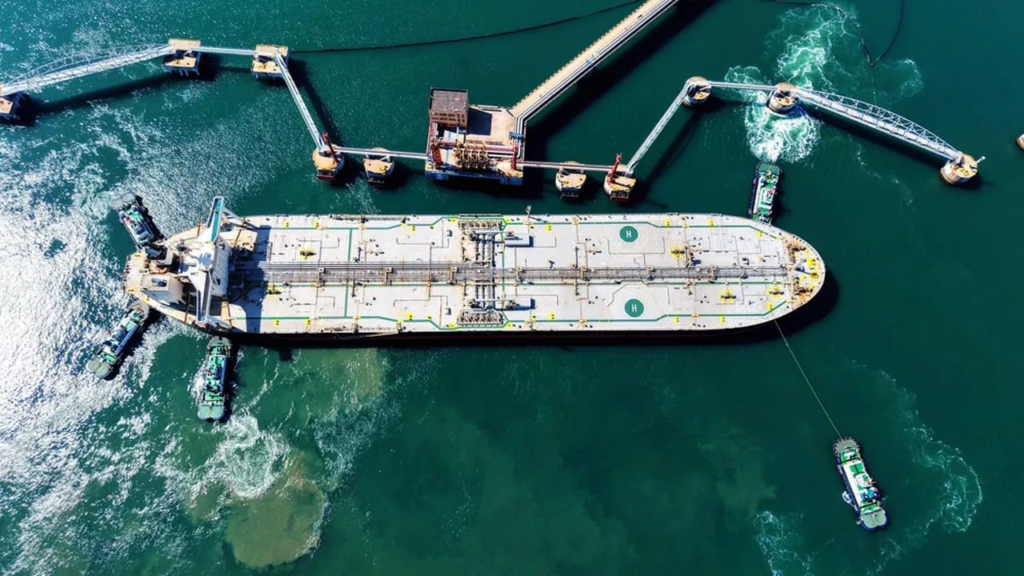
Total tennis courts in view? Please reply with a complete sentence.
The count of tennis courts is 0.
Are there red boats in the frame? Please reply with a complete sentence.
No, there is no red boat in the image.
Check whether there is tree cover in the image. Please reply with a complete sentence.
No, the picture contains no tree cover.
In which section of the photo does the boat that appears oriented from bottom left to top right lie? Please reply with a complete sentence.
The boat that appears oriented from bottom left to top right appears toward the left of the photo.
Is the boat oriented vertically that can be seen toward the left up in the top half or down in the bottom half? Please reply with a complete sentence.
The boat oriented vertically that can be seen toward the left sits in the bottom half of the picture.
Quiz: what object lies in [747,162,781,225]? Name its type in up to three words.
boat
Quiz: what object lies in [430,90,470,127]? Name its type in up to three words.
building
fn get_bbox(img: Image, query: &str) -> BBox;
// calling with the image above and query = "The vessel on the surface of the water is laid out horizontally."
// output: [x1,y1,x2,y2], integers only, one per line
[120,195,828,340]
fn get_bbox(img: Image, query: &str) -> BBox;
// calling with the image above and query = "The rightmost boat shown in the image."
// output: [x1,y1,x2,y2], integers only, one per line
[832,435,889,532]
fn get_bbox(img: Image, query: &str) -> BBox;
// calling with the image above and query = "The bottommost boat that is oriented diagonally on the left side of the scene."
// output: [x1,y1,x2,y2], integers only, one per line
[88,304,147,378]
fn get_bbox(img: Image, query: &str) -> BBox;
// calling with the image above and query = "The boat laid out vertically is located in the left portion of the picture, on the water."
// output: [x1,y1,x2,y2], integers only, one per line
[200,337,232,420]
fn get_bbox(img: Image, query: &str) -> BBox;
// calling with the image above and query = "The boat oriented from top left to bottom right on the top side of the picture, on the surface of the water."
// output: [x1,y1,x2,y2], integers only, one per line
[111,189,164,247]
